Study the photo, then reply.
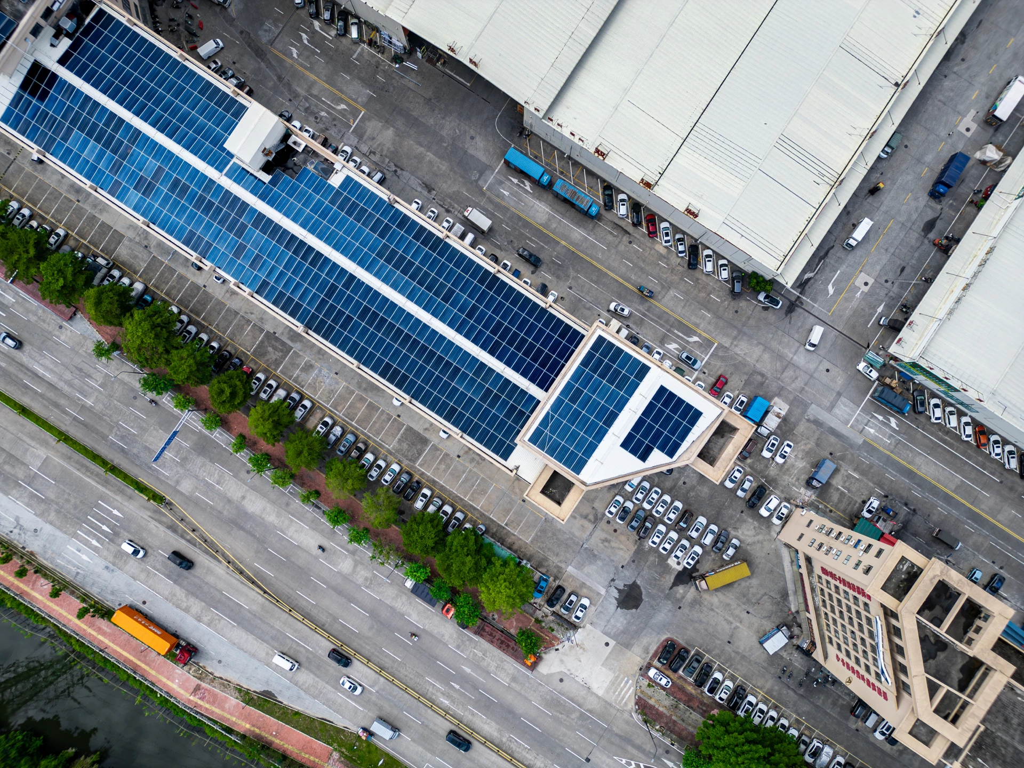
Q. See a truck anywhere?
Yes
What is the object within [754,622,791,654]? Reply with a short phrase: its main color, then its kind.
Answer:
white truck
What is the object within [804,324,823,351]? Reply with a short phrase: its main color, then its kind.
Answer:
white vehicle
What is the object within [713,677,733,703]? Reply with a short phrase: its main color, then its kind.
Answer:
white car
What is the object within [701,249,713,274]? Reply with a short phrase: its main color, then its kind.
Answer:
white vehicle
